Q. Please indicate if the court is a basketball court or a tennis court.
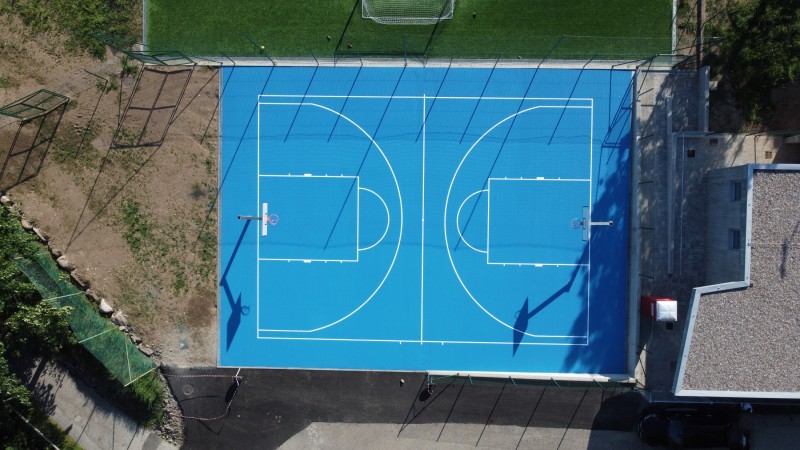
basketball court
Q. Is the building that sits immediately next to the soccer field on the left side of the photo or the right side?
right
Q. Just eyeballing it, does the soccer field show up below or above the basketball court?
above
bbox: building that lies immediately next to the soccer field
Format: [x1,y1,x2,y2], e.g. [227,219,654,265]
[670,166,800,400]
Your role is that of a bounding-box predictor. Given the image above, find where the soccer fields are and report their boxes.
[142,0,678,59]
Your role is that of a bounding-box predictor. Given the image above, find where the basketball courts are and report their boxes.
[217,66,634,375]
